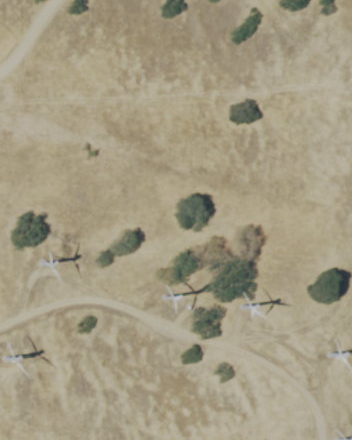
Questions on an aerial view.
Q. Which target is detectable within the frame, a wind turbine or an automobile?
wind turbine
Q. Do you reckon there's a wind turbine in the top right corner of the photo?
No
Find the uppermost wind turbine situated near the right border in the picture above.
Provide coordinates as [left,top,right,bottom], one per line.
[326,340,352,374]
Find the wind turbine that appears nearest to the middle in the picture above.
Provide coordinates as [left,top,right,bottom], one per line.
[160,282,184,318]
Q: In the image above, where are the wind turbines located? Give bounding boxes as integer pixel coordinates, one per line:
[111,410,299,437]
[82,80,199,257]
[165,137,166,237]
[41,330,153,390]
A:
[2,344,28,376]
[160,282,184,318]
[238,290,264,318]
[326,340,352,374]
[38,252,61,284]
